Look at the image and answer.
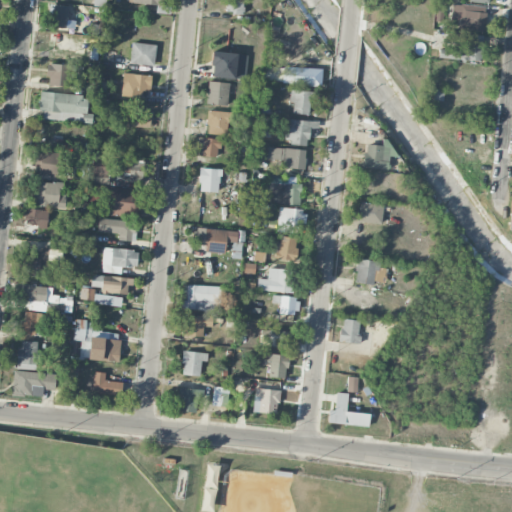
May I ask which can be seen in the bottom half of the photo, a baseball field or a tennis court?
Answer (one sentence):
The feature located in the bottom half of the photo is a baseball field.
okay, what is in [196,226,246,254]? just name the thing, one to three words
house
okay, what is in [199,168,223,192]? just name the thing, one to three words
house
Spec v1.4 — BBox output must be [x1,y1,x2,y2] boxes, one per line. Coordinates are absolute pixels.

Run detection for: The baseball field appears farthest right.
[227,471,378,512]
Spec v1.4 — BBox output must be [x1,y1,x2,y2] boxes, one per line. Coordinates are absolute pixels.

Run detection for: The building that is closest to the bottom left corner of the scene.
[11,372,56,397]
